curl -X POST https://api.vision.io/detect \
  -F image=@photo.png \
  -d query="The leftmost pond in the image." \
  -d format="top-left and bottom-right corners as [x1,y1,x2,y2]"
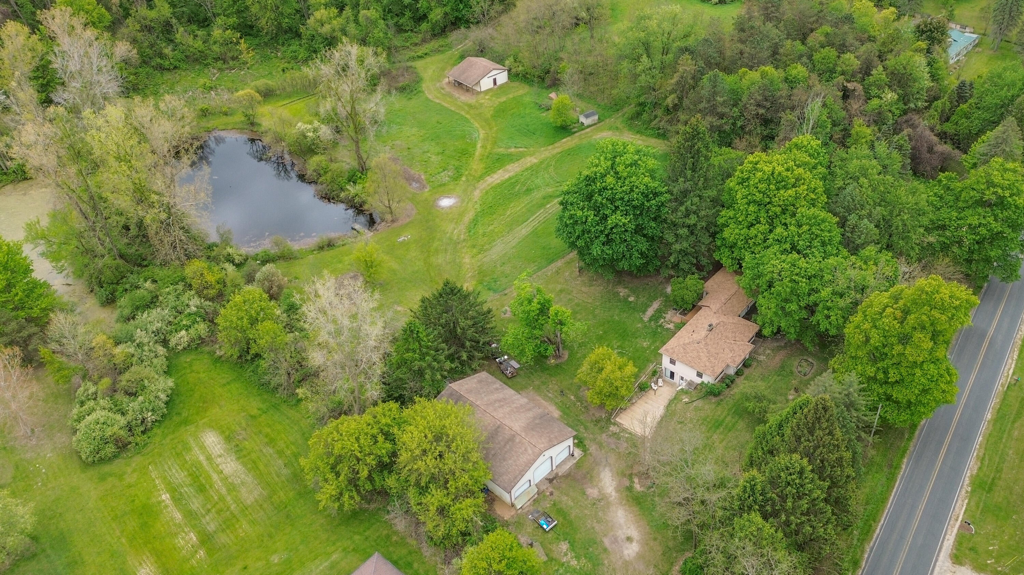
[0,179,115,336]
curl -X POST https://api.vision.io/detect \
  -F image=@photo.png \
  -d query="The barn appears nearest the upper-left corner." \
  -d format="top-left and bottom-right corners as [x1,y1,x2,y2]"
[446,57,509,94]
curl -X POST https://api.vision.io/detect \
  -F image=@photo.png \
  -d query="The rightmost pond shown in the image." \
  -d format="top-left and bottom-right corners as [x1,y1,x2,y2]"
[178,133,375,253]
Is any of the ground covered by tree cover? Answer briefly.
Yes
